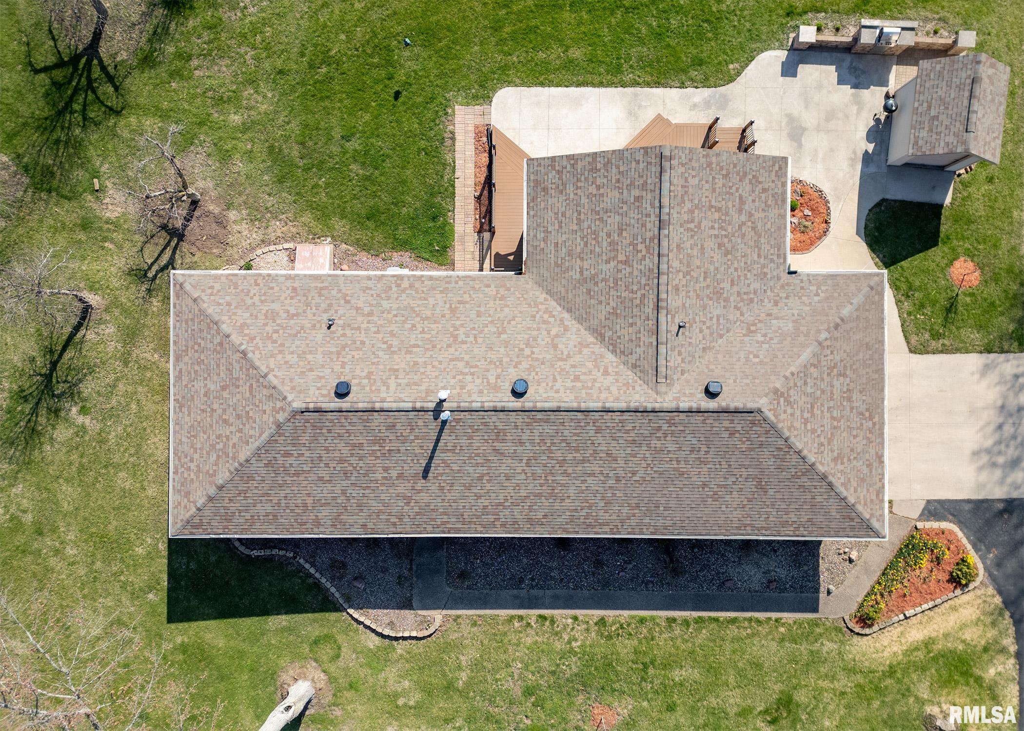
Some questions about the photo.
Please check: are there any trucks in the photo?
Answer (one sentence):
No, there's no truck here.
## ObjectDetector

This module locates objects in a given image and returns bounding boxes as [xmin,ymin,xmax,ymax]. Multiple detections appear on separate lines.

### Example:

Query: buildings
[170,146,887,539]
[887,54,1008,173]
